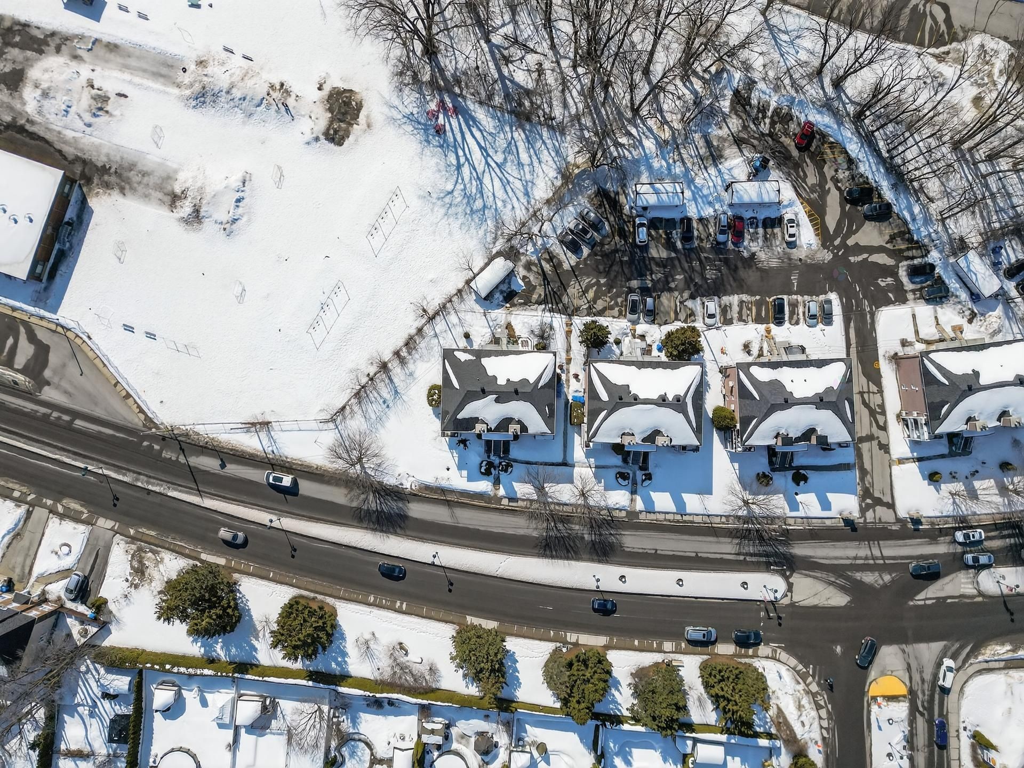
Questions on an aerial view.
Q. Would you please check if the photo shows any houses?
Yes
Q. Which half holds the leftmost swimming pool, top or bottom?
bottom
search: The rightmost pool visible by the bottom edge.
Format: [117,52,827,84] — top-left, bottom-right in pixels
[609,737,666,768]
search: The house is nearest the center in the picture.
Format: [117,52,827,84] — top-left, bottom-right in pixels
[441,349,557,455]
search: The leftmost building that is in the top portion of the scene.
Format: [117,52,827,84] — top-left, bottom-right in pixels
[0,148,83,285]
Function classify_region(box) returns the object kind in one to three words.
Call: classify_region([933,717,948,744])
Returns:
car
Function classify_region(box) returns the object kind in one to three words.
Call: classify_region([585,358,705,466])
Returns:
house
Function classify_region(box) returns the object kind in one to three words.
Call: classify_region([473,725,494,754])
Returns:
gazebo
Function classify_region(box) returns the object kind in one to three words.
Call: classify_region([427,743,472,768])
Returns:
swimming pool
